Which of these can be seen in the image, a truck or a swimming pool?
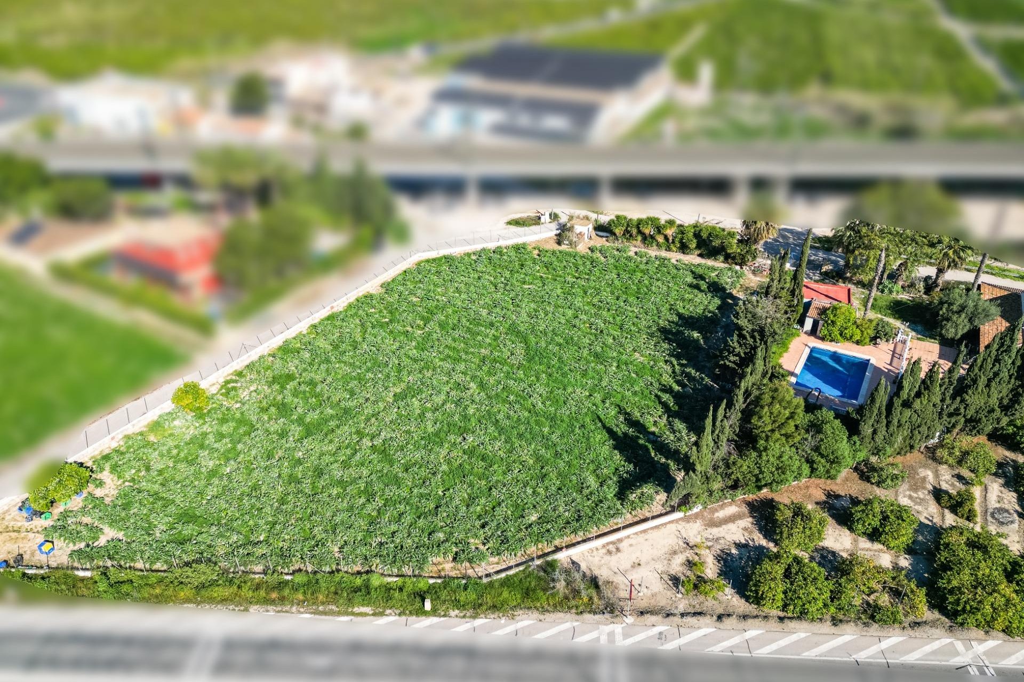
swimming pool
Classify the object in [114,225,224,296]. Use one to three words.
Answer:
house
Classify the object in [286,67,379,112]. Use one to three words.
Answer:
house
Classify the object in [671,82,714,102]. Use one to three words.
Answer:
building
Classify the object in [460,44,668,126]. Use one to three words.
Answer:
building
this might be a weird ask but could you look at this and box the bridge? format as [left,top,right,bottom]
[0,140,1024,199]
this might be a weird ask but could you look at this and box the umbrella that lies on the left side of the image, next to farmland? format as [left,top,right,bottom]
[36,542,58,568]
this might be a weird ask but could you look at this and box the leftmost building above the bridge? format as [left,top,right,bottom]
[53,89,189,139]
